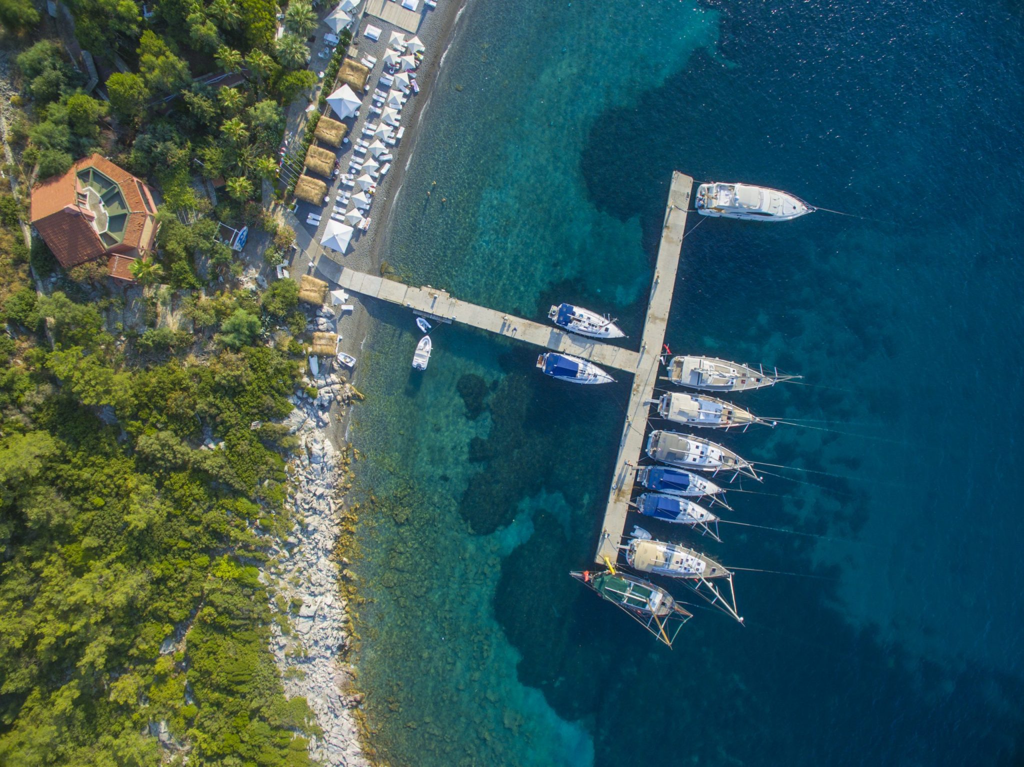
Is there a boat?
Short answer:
Yes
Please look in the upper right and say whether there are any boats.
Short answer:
Yes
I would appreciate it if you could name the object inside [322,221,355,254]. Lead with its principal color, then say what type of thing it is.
white umbrella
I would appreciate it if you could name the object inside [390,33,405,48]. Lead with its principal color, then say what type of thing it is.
white umbrella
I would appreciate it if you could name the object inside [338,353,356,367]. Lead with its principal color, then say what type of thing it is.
white boat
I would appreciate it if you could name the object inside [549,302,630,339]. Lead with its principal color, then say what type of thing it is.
white boat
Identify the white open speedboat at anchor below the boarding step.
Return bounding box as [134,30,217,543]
[414,336,433,373]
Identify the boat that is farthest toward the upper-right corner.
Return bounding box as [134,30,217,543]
[692,185,819,226]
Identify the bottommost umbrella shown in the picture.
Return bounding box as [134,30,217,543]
[332,290,347,305]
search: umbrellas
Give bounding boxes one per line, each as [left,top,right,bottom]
[358,174,375,192]
[389,90,404,106]
[332,290,347,305]
[327,11,352,36]
[335,0,361,16]
[376,124,393,141]
[369,140,388,158]
[390,33,405,48]
[383,107,398,123]
[402,56,417,72]
[407,37,425,55]
[352,192,369,209]
[363,159,380,177]
[328,87,364,122]
[384,50,400,67]
[322,221,355,254]
[396,74,411,89]
[346,208,364,227]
